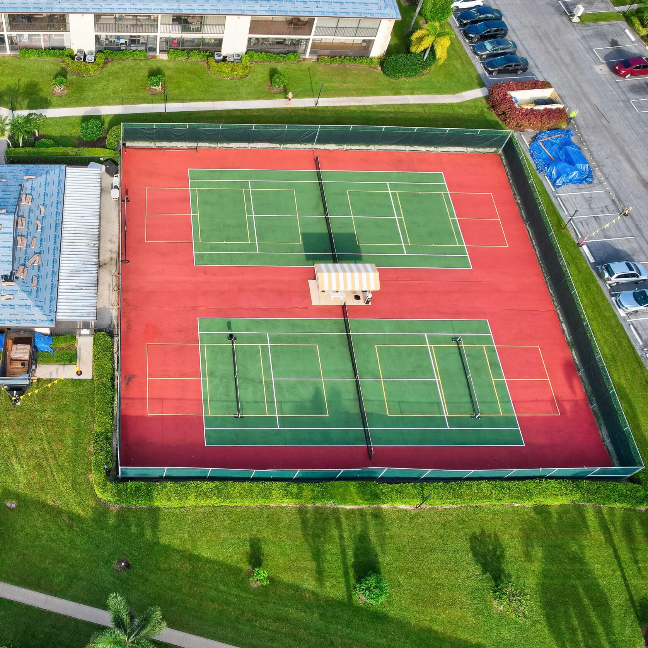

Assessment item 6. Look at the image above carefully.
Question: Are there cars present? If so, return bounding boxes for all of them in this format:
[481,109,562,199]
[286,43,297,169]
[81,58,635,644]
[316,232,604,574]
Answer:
[597,258,648,287]
[447,0,486,11]
[463,16,510,43]
[616,289,648,315]
[471,35,520,59]
[481,53,532,75]
[460,7,508,27]
[614,56,648,78]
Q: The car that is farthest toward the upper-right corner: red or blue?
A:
red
